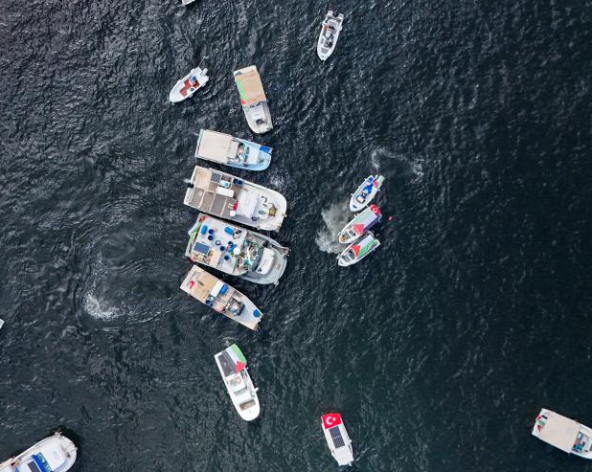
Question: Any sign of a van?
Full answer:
No, the photo shows no van.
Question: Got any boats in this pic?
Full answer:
Yes, I can see a boat in this picture.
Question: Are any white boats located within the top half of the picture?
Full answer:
Yes, looking within the top half of the picture, one can make out a white boat.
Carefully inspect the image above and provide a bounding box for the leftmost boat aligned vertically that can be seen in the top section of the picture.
[232,65,271,134]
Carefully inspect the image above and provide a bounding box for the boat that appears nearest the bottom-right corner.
[531,409,592,455]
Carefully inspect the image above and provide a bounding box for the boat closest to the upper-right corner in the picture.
[319,11,344,60]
